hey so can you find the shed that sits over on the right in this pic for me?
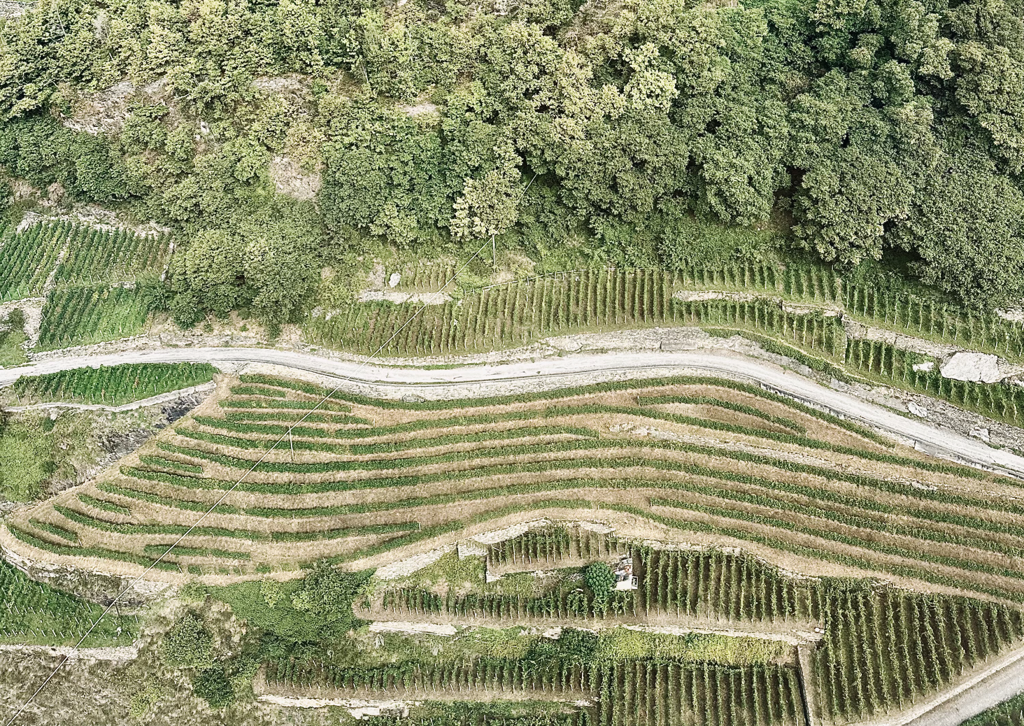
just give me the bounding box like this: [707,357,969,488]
[612,554,633,593]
